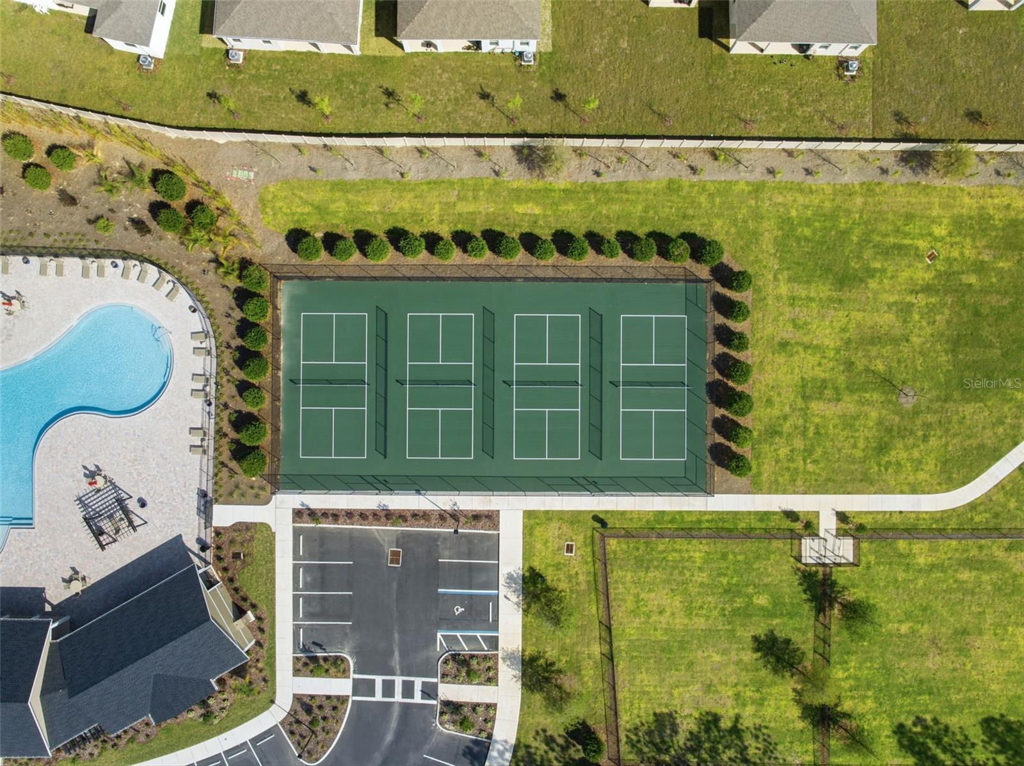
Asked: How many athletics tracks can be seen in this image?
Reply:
0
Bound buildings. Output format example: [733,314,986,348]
[396,0,542,52]
[730,0,878,55]
[968,0,1024,10]
[14,0,175,58]
[649,0,699,6]
[0,562,255,759]
[211,0,362,54]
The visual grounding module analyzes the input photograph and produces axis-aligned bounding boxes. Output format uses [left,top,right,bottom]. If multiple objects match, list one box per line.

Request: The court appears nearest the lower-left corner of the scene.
[300,313,367,458]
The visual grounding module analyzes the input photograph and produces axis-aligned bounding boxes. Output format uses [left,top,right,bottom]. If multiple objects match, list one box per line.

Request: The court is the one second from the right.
[514,314,580,459]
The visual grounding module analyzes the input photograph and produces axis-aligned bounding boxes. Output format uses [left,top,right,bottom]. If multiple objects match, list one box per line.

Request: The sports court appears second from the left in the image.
[407,314,473,459]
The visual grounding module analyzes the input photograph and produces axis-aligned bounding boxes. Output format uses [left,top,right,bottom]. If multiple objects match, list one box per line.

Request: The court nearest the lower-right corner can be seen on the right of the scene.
[620,315,686,460]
